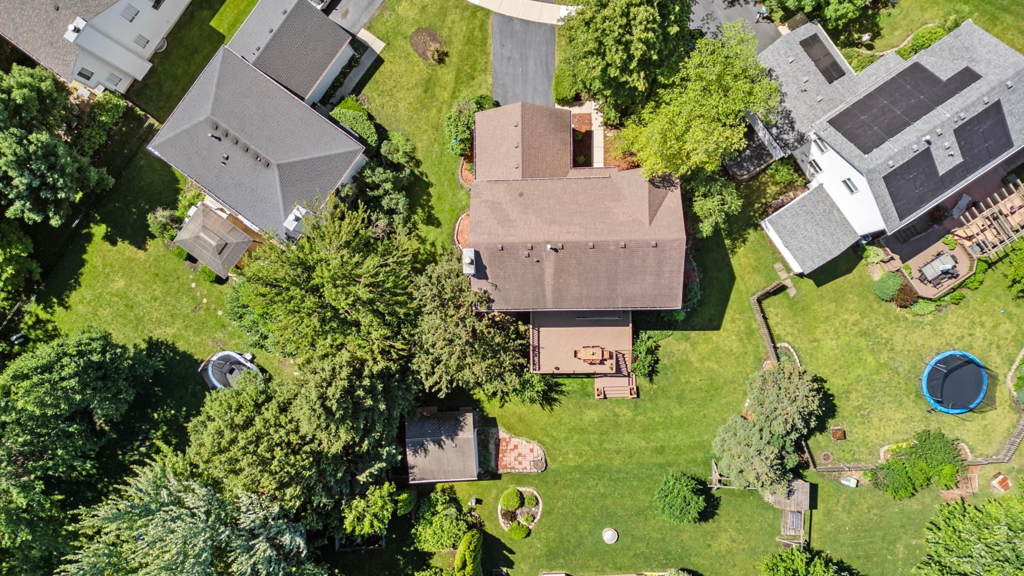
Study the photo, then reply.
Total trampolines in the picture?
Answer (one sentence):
In total, 2 trampolines can be seen.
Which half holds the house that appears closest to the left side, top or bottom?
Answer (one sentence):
It is in the top half that the house that appears closest to the left side appears.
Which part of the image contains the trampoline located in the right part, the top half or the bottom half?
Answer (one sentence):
The bottom half of the photo is where the trampoline located in the right part is.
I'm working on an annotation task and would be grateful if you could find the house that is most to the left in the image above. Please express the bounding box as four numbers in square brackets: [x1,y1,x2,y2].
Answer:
[0,0,192,101]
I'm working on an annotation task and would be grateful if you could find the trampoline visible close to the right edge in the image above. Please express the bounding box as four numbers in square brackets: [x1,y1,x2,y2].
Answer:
[915,347,1001,419]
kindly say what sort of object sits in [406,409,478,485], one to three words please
shed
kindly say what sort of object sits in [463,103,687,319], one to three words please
house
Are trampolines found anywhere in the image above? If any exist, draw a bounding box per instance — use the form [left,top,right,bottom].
[199,349,268,407]
[915,347,1001,419]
